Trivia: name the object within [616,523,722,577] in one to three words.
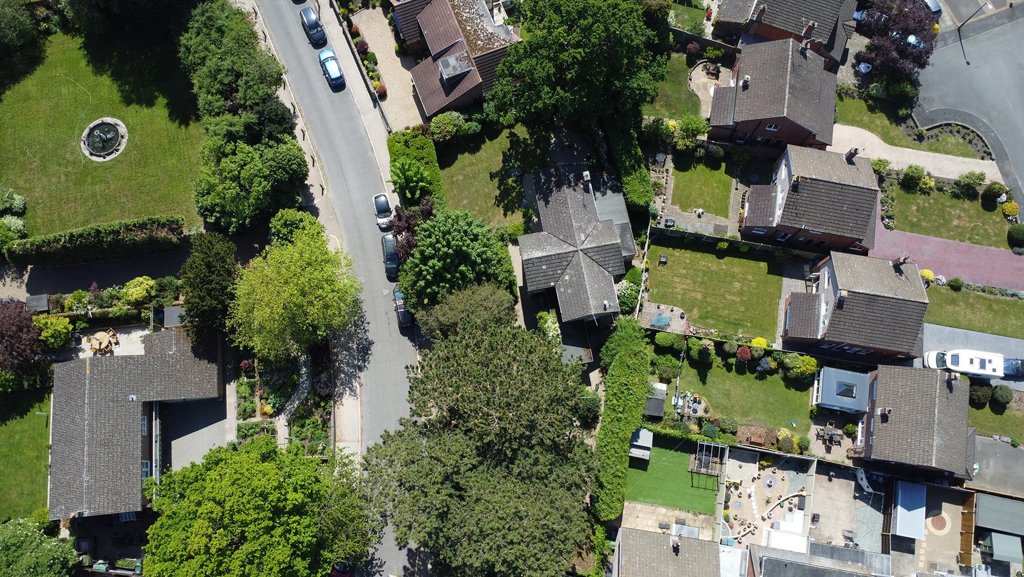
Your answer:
house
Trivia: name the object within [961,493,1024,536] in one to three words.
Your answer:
shed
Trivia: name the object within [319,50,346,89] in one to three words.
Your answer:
car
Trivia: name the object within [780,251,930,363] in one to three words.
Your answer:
house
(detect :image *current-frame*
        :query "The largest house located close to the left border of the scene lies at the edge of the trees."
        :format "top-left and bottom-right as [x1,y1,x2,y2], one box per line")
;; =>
[47,327,226,520]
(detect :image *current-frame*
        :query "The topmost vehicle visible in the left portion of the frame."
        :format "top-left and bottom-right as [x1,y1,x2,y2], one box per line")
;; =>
[300,8,328,48]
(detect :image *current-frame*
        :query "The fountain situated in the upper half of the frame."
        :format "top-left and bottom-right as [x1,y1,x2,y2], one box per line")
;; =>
[80,118,128,160]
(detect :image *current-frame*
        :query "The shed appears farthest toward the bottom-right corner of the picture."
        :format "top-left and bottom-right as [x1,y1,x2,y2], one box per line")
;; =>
[973,531,1022,564]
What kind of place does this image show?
residential area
